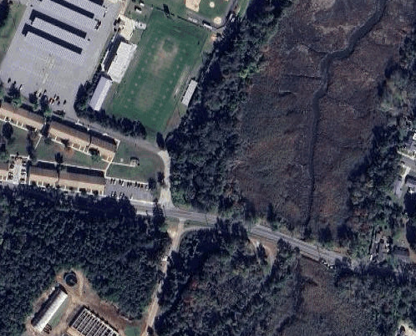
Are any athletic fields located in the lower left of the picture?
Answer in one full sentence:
No, no athletic field appears in the lower left of the picture.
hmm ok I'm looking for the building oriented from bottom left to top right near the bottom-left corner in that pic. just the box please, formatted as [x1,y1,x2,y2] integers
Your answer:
[32,290,68,333]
